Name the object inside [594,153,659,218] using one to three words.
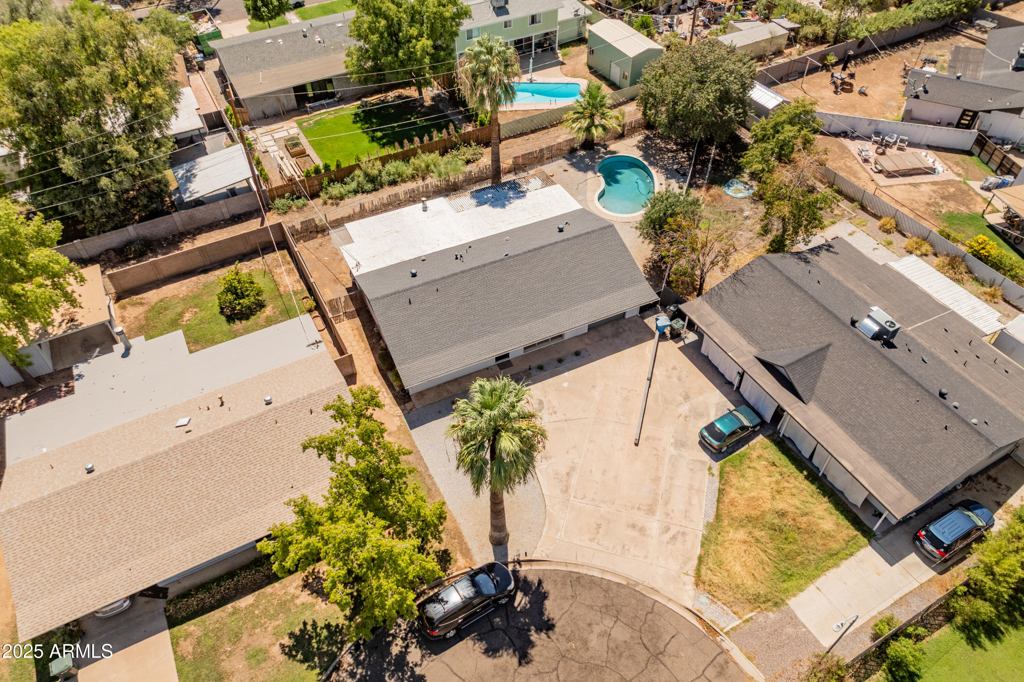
swimming pool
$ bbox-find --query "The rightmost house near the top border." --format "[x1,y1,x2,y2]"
[899,24,1024,147]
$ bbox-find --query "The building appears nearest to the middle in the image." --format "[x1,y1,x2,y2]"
[340,184,659,394]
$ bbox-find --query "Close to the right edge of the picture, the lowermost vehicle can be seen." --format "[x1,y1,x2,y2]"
[912,494,1003,567]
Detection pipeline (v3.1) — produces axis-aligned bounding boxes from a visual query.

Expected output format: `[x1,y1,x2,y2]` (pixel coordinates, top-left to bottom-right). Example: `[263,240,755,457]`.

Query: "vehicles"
[694,401,770,457]
[411,558,522,649]
[289,0,306,6]
[87,597,132,624]
[912,494,1003,567]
